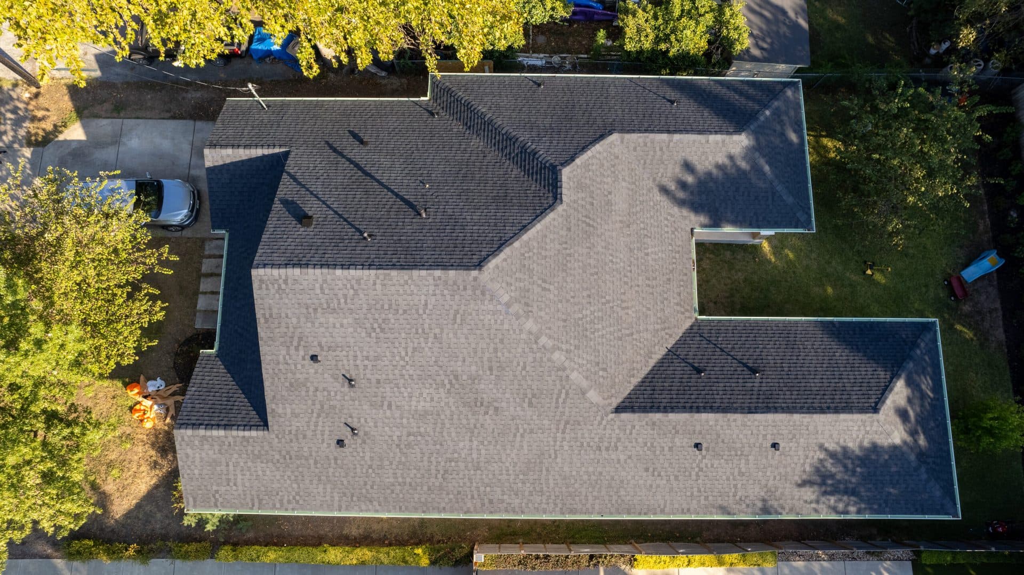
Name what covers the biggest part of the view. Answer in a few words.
buildings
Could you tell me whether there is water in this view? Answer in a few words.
No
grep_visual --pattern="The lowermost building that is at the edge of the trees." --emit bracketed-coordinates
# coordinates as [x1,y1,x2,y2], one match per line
[172,70,965,523]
